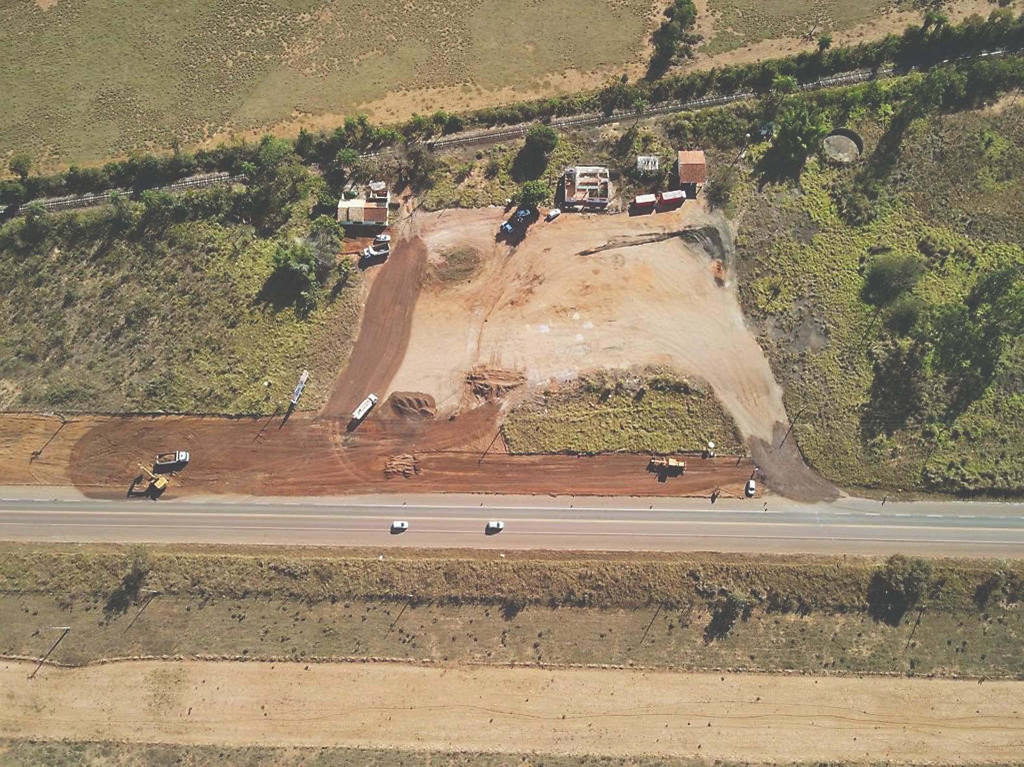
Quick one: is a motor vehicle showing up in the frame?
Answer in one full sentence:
Yes, there's a motor vehicle here.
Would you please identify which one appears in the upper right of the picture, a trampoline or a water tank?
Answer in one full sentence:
You can see a water tank in the upper right of the picture.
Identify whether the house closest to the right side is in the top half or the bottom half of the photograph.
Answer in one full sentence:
You can find the house closest to the right side in the top half.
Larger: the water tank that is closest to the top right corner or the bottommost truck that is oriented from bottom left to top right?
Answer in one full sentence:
The water tank takes up more space than the truck does.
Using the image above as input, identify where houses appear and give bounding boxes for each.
[565,167,609,206]
[338,192,390,227]
[676,151,705,187]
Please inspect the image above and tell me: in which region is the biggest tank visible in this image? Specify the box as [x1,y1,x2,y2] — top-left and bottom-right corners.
[822,127,865,162]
